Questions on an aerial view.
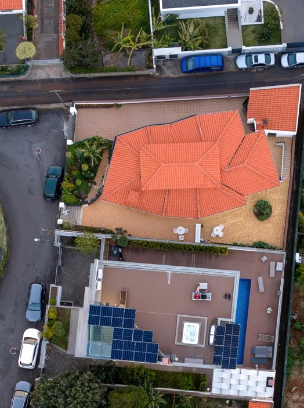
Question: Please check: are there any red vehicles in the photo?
No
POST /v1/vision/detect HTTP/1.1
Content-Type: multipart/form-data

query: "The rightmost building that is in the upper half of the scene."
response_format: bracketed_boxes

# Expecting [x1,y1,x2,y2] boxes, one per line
[245,85,301,141]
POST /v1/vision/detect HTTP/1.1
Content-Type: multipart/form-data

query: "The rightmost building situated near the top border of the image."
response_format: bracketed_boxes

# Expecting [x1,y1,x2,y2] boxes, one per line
[160,0,263,51]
